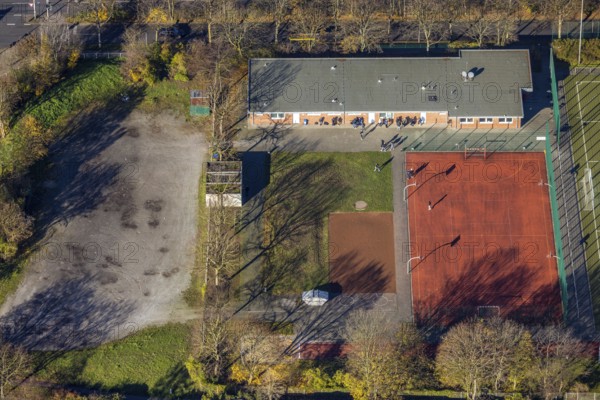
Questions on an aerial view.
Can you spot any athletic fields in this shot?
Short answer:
Yes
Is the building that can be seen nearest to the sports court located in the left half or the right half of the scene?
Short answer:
right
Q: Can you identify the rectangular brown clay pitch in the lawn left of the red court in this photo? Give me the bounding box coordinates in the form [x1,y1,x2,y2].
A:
[329,212,396,293]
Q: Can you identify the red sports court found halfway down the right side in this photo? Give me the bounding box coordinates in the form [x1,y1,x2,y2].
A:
[406,151,565,330]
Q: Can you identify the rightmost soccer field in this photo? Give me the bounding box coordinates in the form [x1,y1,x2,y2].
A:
[565,79,600,363]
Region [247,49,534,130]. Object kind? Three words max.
building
